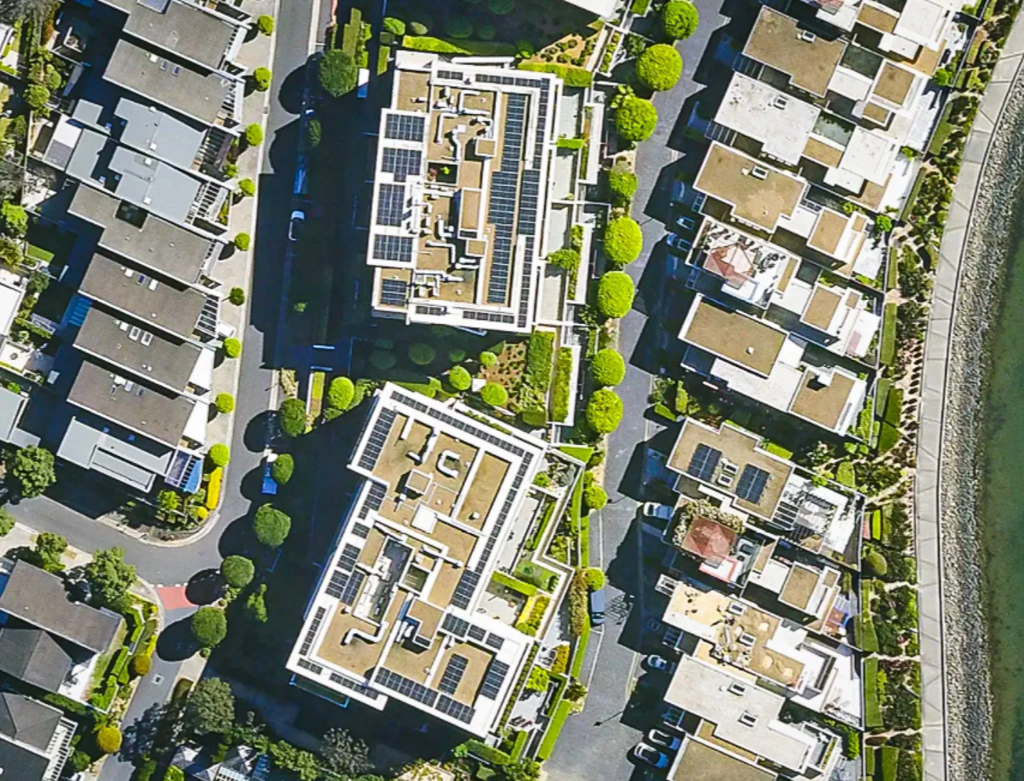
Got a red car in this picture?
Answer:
No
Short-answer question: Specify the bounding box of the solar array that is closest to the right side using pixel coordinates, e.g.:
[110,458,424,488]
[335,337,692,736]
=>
[735,463,770,504]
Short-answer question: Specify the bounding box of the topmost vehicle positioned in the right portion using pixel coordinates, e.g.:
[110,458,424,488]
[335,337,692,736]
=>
[669,175,689,206]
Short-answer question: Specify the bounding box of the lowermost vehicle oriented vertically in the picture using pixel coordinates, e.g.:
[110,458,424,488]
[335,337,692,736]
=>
[590,590,606,624]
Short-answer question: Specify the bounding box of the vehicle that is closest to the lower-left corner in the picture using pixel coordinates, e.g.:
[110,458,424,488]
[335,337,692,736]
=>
[262,453,279,495]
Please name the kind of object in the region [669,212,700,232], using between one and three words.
car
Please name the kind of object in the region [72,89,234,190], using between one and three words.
house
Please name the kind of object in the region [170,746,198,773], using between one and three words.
umbrella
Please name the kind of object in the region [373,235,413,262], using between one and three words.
solar array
